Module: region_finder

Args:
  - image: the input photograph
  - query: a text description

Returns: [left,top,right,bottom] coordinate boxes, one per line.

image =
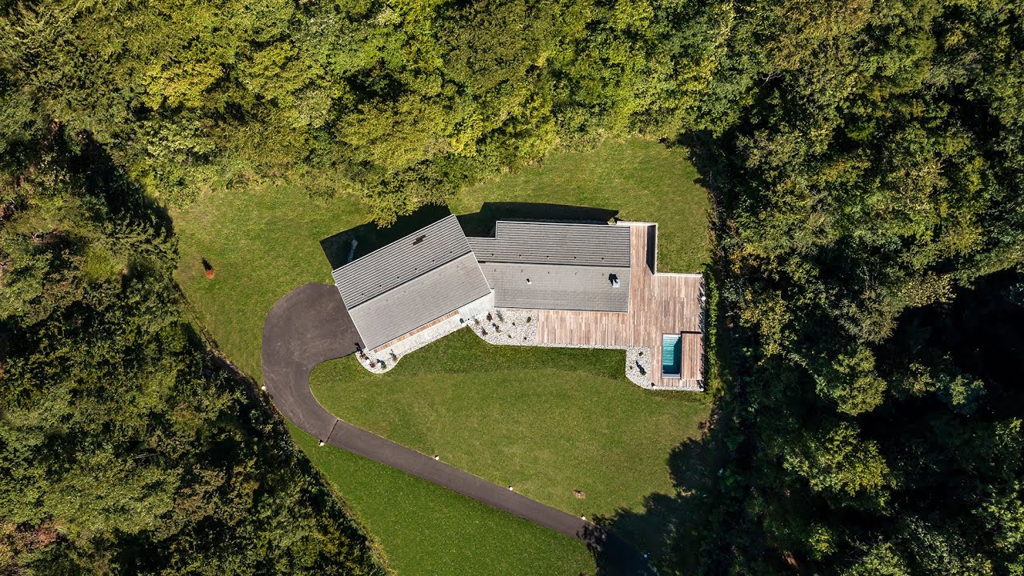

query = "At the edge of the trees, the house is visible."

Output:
[331,212,631,350]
